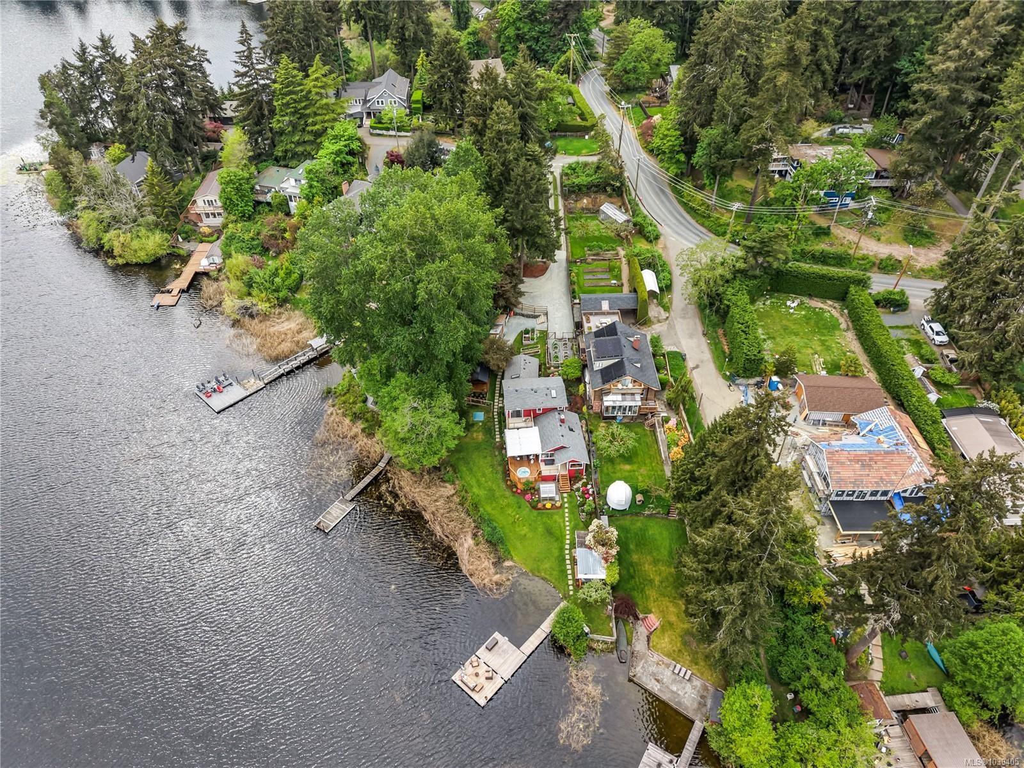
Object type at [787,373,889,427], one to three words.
building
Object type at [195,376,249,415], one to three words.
pier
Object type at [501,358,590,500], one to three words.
house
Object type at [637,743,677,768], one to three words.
pier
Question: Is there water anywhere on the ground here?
Yes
